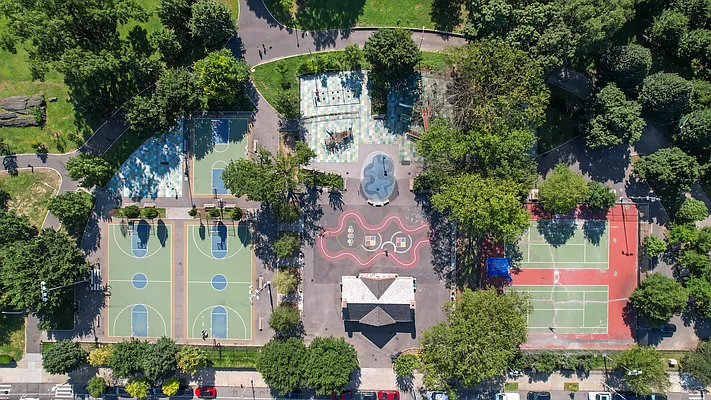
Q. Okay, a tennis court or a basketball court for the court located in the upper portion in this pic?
basketball court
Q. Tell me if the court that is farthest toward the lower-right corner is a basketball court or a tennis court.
tennis court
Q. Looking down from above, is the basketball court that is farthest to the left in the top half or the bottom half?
bottom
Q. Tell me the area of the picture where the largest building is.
bottom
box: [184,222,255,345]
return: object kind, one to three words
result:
basketball court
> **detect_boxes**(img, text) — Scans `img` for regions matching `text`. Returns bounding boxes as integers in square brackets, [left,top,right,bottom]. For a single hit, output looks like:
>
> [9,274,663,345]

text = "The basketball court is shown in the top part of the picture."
[190,115,252,198]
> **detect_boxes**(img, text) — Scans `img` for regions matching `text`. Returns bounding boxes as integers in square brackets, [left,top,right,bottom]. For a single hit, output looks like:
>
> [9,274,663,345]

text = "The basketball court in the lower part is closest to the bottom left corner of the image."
[105,222,174,342]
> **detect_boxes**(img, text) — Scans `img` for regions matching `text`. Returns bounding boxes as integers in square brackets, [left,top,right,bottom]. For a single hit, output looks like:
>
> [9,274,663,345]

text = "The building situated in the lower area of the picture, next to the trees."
[340,267,419,329]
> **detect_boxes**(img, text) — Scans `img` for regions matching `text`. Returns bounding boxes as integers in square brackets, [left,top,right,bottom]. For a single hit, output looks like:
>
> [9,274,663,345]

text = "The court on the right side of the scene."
[480,204,637,349]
